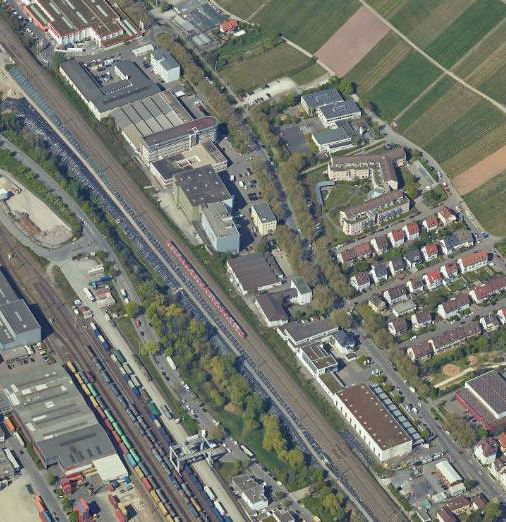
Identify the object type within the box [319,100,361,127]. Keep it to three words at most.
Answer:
building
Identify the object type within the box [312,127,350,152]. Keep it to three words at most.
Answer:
building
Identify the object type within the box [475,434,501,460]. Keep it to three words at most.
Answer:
house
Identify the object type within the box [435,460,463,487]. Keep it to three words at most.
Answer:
shed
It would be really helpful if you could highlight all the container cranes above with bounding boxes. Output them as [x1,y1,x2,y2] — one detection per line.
[167,432,230,475]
